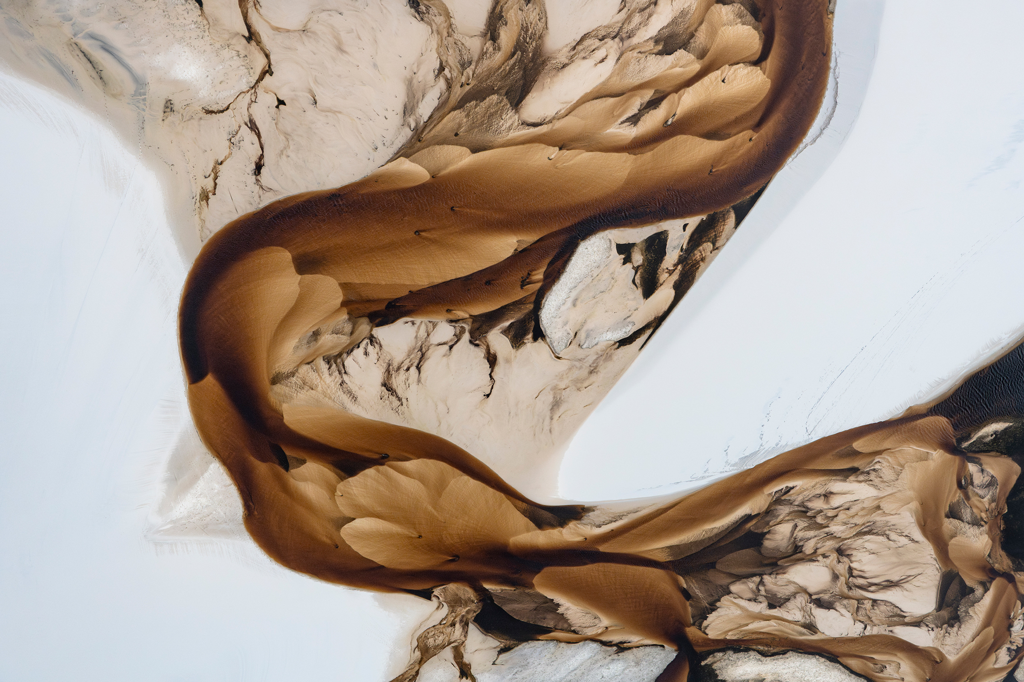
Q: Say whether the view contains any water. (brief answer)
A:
Yes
